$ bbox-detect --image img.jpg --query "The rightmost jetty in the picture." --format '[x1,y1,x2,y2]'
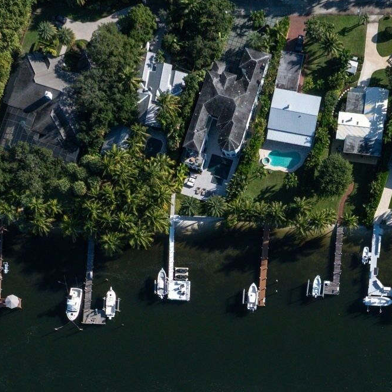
[367,225,392,296]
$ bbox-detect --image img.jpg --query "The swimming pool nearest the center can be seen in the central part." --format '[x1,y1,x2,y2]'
[207,153,234,179]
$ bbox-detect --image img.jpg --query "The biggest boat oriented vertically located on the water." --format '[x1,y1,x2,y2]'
[68,287,85,321]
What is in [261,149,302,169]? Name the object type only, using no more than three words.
swimming pool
